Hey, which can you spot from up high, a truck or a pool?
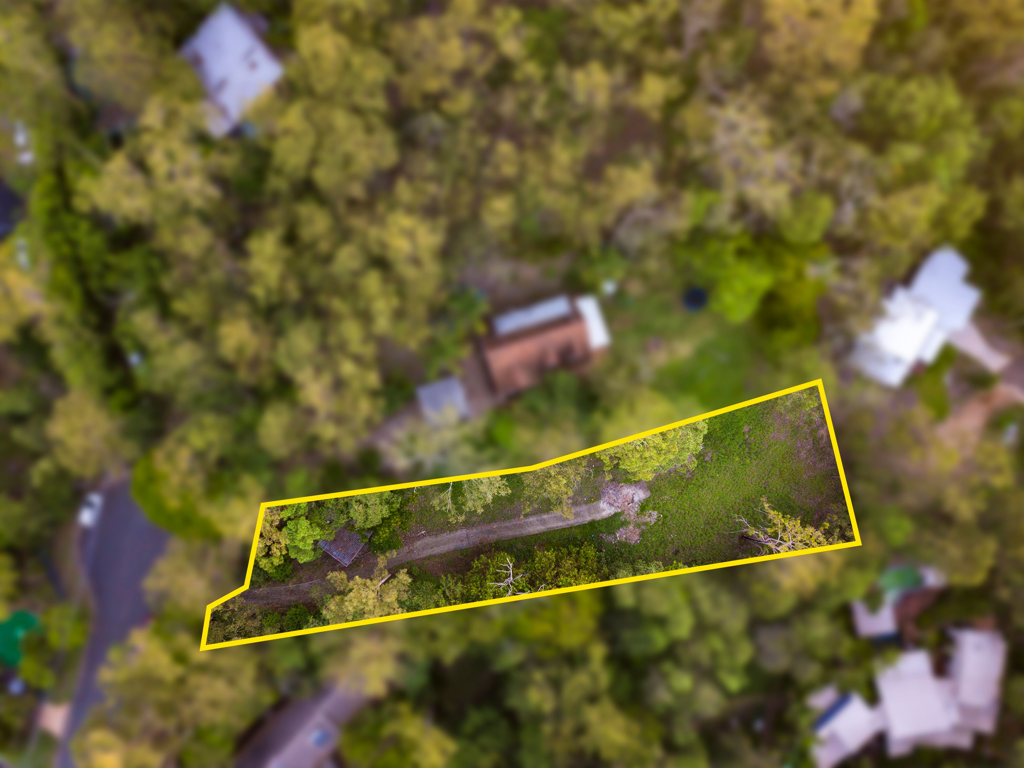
pool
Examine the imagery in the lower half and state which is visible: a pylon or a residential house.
residential house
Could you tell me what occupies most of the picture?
trees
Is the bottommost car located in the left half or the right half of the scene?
left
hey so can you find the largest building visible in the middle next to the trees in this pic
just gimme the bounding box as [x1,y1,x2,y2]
[485,293,611,397]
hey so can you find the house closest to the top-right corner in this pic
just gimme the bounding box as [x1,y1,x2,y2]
[846,246,981,387]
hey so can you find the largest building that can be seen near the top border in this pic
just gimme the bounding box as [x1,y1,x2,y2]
[182,2,287,142]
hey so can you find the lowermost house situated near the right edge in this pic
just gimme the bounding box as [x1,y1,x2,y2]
[809,630,1007,768]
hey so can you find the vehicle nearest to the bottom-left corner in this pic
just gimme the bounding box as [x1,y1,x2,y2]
[74,494,99,529]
